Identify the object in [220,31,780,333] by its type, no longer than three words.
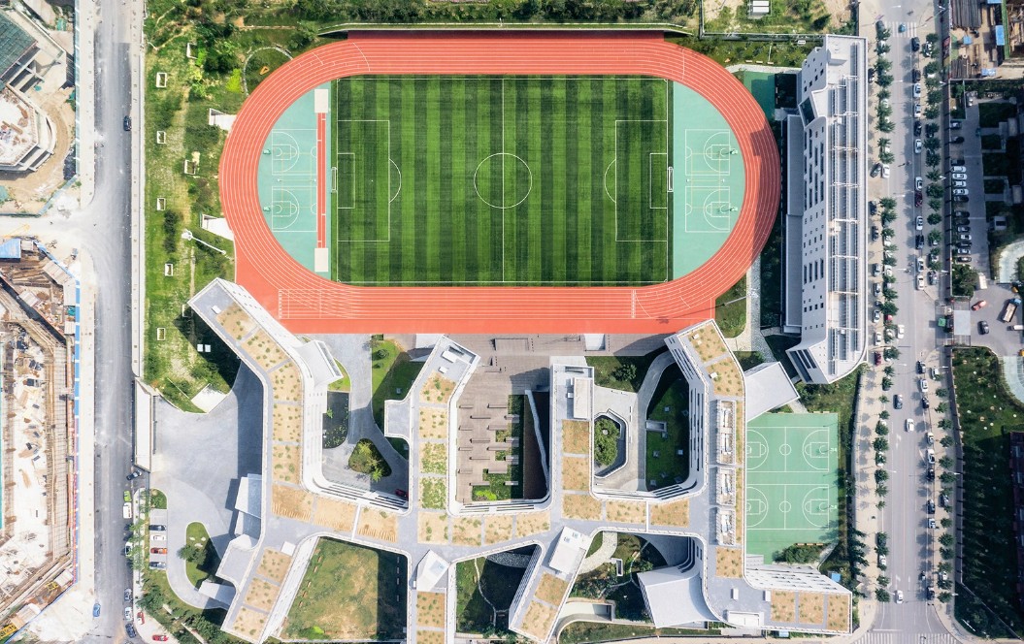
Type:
running track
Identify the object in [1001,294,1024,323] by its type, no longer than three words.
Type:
truck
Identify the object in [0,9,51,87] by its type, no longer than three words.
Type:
building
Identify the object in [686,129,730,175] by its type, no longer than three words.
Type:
basketball court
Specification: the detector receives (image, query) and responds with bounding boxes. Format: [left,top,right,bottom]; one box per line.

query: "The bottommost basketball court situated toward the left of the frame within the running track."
[272,186,317,231]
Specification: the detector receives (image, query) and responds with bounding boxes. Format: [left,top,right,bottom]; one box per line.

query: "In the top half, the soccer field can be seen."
[331,74,674,287]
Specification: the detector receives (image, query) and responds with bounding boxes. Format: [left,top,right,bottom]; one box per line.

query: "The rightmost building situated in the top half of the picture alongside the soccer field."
[771,34,869,384]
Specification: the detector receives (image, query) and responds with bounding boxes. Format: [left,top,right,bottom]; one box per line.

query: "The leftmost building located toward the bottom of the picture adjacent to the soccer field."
[187,278,852,644]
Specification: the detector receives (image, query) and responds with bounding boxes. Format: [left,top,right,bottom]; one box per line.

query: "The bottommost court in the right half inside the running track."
[686,186,730,232]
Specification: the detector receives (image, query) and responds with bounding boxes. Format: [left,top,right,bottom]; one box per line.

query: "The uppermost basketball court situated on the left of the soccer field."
[272,129,317,175]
